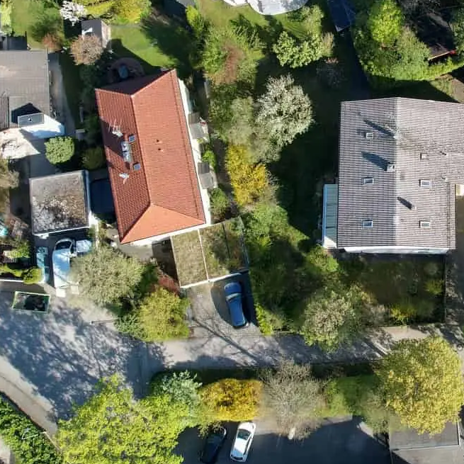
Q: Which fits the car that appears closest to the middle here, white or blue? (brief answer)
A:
blue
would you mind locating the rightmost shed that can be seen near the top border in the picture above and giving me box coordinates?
[416,14,455,63]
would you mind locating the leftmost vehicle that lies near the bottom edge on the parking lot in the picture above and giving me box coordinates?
[198,421,229,464]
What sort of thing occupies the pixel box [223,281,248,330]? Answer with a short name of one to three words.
car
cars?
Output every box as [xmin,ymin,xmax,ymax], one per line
[227,417,256,464]
[223,281,248,330]
[50,238,73,285]
[198,421,229,464]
